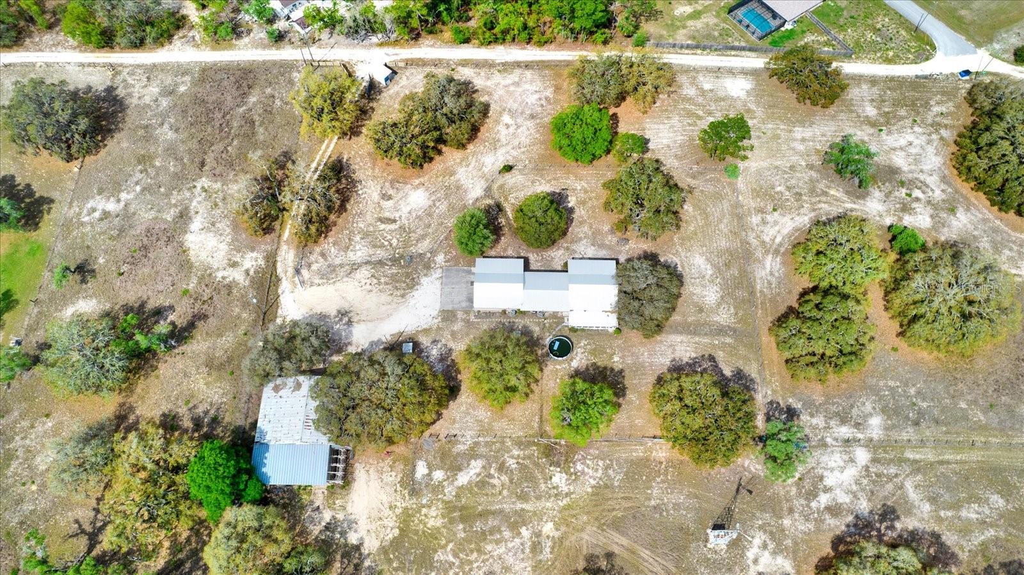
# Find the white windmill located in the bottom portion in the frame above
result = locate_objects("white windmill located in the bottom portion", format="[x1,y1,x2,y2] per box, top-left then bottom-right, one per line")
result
[709,525,753,547]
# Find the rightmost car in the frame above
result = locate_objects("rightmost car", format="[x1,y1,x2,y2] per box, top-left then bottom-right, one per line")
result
[959,68,975,80]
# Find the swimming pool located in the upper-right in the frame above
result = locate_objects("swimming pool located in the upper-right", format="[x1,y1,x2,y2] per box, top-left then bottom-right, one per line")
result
[741,7,773,32]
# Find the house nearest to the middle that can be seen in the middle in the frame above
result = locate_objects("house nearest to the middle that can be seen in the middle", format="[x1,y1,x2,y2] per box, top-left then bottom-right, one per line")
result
[473,258,618,336]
